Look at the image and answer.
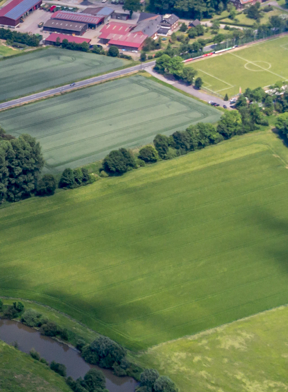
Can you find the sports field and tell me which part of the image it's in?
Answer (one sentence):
You can find the sports field in the top right area of the picture.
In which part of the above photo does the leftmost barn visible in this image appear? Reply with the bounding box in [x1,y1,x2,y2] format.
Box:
[0,0,42,27]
